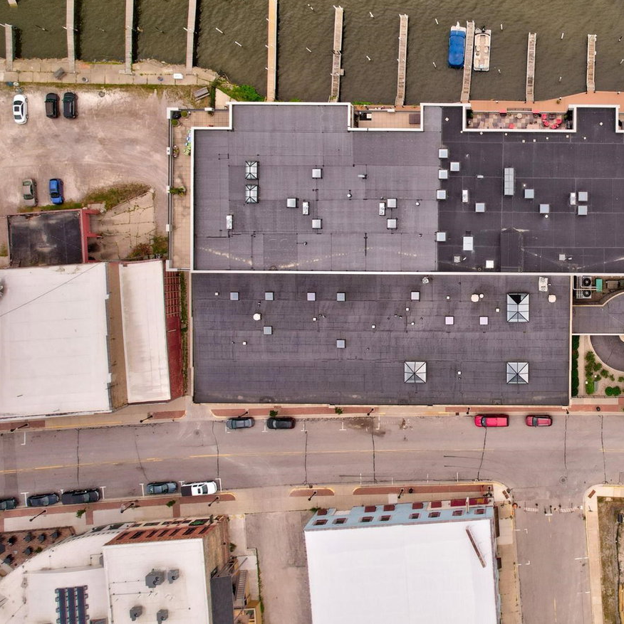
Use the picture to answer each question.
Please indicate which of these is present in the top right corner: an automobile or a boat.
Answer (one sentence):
You can see a boat in the top right corner.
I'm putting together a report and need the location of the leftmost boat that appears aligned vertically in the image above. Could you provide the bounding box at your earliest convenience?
[447,23,466,70]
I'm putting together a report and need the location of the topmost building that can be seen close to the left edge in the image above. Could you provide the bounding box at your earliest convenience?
[9,209,111,267]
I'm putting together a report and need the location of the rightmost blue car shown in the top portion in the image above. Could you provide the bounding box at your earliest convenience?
[49,178,65,204]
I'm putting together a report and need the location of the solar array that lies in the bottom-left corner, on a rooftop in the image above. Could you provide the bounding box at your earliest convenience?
[56,585,90,624]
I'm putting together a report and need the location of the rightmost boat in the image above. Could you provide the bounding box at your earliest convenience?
[475,27,493,73]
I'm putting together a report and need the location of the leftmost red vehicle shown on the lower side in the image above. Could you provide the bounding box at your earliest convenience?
[476,414,509,428]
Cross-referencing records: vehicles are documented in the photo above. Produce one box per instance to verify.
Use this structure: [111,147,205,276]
[180,481,219,497]
[476,414,509,428]
[0,496,19,512]
[12,95,30,123]
[43,93,60,119]
[228,417,256,430]
[49,178,65,204]
[269,417,296,430]
[22,178,39,206]
[62,93,79,119]
[527,415,553,428]
[149,481,178,495]
[61,487,102,505]
[30,492,60,506]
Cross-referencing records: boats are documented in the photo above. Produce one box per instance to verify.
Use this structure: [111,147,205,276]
[475,27,493,73]
[447,23,466,70]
